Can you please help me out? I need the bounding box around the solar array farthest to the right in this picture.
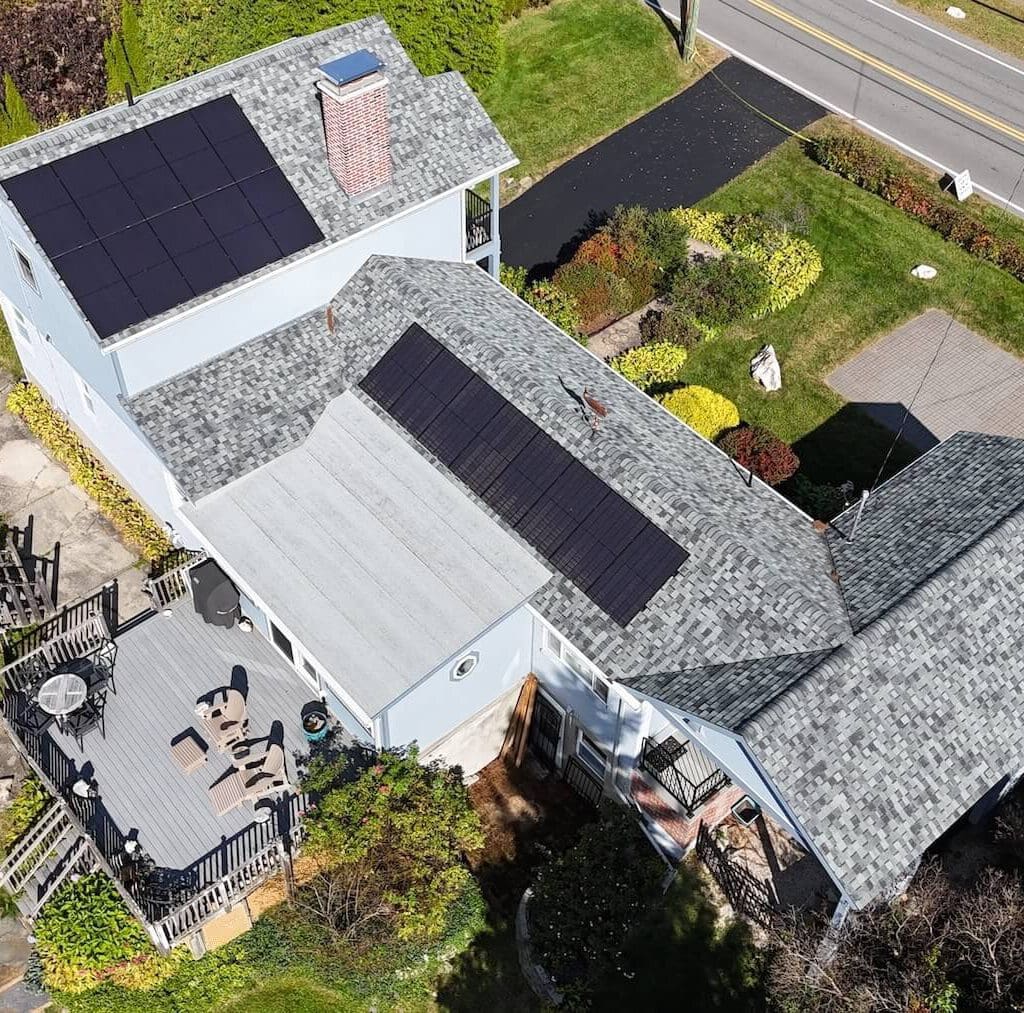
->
[355,326,688,629]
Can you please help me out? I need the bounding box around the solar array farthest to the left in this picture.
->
[3,97,326,340]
